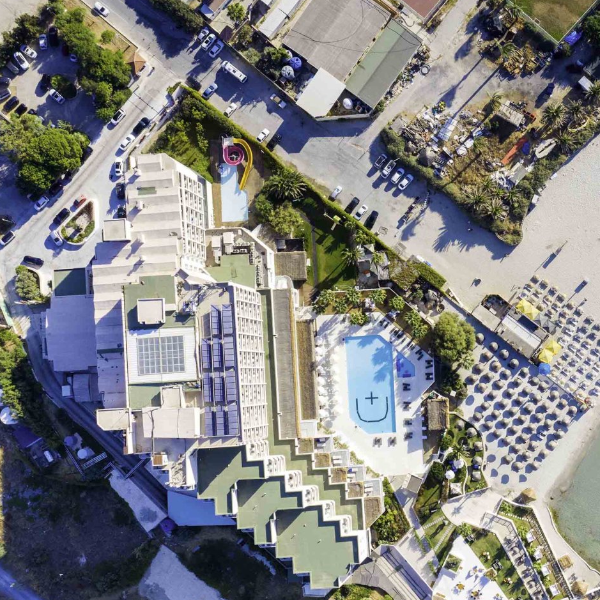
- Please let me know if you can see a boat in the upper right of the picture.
Yes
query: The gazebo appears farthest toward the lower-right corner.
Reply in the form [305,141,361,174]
[570,581,587,596]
